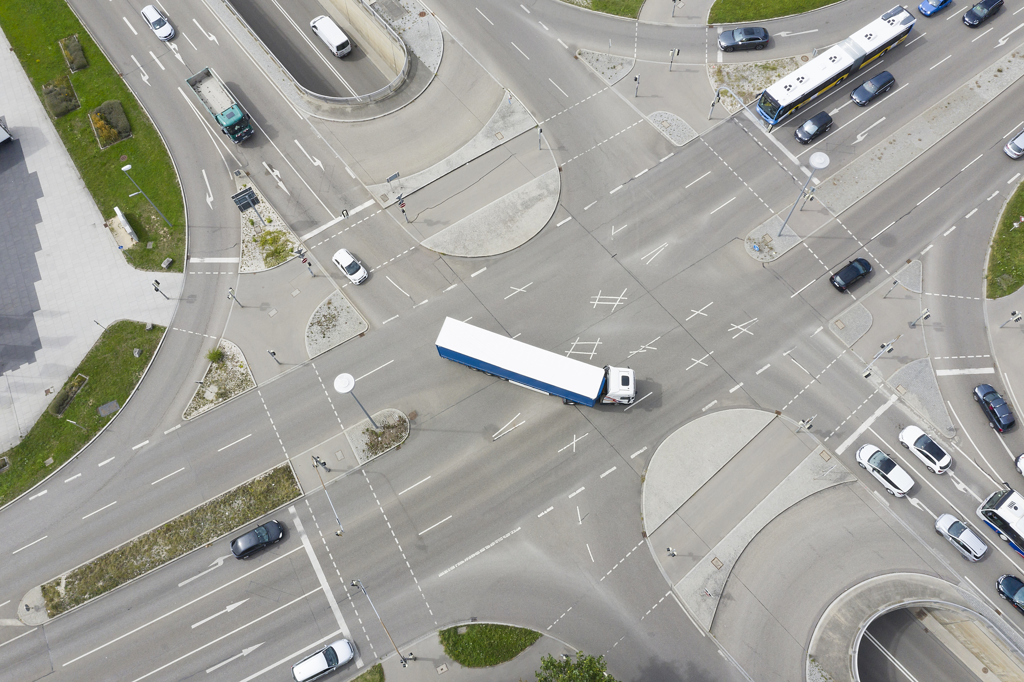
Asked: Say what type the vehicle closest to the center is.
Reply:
truck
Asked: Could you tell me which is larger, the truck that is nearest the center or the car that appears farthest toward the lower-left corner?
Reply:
the truck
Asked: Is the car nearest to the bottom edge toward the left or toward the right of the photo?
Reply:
left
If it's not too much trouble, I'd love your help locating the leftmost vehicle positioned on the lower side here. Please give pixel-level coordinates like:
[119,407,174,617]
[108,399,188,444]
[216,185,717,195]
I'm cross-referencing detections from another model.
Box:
[228,521,286,561]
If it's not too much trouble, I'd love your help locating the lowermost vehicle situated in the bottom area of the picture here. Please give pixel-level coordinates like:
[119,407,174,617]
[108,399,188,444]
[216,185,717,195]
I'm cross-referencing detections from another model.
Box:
[289,639,356,682]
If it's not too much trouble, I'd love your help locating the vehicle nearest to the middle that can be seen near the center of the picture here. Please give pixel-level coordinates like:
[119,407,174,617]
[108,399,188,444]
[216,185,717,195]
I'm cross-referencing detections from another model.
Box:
[435,317,636,412]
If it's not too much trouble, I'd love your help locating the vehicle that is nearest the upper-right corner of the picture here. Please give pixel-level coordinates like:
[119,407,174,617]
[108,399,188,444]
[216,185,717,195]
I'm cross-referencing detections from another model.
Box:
[962,0,1007,32]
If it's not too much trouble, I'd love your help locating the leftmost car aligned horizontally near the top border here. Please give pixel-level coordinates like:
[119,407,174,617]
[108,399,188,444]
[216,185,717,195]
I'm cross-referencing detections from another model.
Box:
[718,27,770,54]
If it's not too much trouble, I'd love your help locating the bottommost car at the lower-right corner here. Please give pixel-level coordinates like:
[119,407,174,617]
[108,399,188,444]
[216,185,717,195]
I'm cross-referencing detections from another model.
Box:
[992,577,1024,619]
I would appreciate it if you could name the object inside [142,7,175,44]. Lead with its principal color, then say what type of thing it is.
white car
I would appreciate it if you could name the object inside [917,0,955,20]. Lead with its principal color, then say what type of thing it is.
blue car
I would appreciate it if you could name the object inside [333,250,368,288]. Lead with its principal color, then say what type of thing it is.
white car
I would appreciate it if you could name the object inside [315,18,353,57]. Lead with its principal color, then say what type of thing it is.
white van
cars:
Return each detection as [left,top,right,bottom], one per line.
[917,0,955,20]
[142,7,175,44]
[333,250,368,288]
[289,639,356,682]
[896,428,955,478]
[992,577,1024,619]
[932,517,995,570]
[962,0,1007,32]
[850,72,898,109]
[972,383,1024,438]
[828,262,876,297]
[718,27,770,54]
[228,521,286,561]
[794,111,838,147]
[853,449,915,502]
[1006,133,1024,159]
